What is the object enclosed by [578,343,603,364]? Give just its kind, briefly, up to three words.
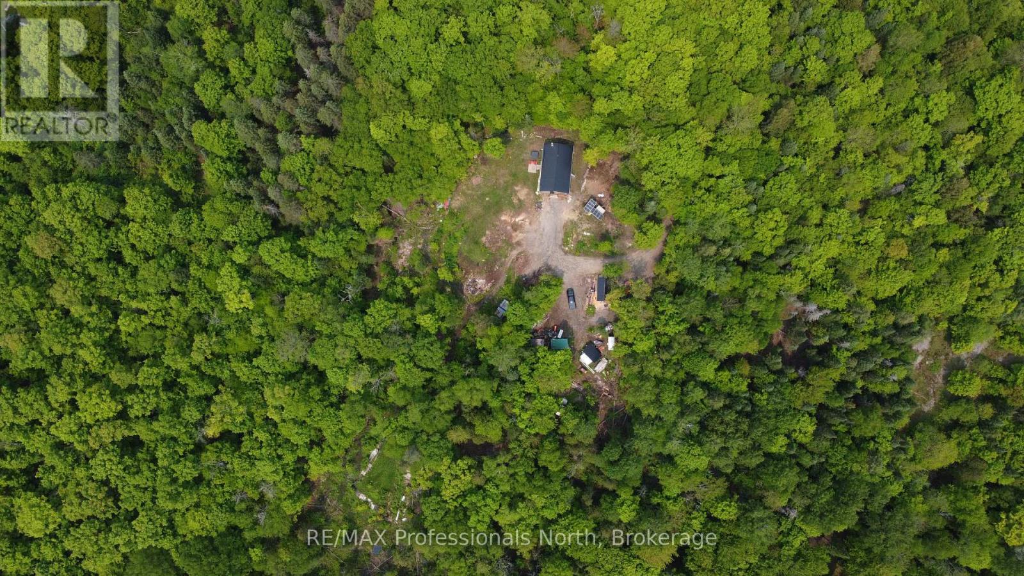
building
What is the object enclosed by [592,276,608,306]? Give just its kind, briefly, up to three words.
shed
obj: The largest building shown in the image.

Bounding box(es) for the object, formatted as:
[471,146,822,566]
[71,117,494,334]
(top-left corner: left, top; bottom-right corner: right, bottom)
[537,143,575,205]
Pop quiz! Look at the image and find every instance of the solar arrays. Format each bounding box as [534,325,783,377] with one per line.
[591,206,605,219]
[584,198,598,213]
